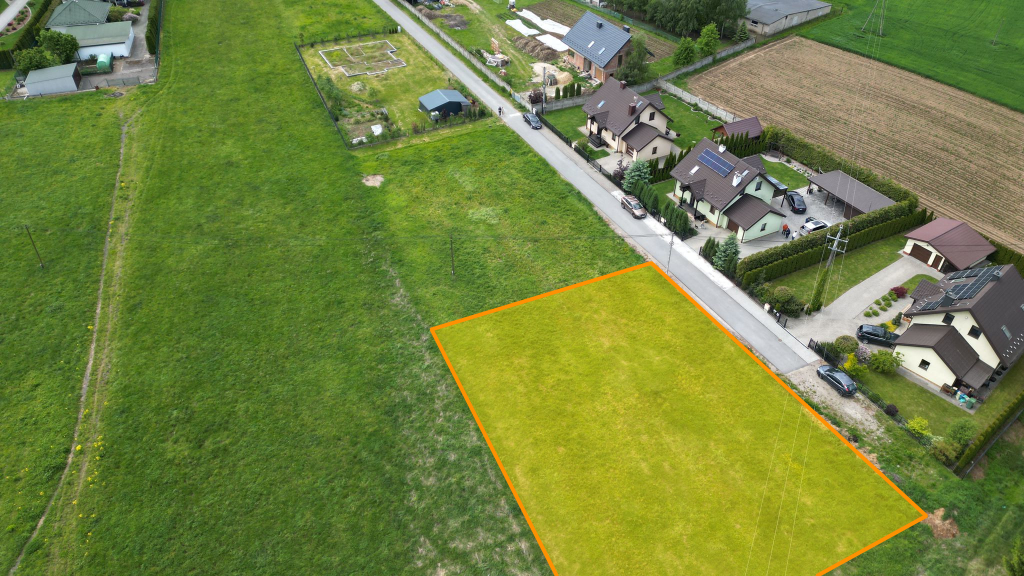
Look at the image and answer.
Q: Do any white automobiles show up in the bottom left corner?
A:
No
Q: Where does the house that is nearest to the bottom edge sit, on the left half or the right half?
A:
right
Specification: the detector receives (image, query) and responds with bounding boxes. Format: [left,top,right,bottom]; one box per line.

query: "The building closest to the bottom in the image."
[890,263,1024,398]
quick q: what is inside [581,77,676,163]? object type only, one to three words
house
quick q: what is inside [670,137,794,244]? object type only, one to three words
house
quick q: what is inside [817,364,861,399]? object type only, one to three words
car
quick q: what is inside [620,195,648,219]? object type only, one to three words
car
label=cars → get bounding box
[857,323,901,350]
[785,192,806,211]
[817,364,861,399]
[800,214,831,236]
[620,195,648,219]
[522,113,542,129]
